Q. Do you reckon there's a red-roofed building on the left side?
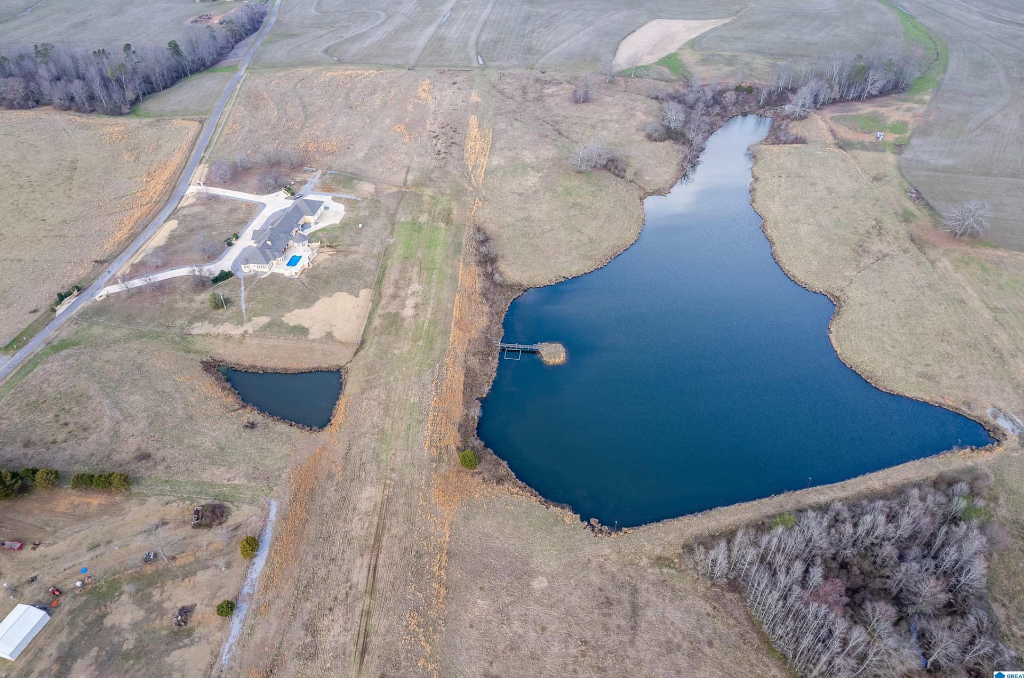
No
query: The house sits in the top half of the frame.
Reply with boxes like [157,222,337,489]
[240,196,326,273]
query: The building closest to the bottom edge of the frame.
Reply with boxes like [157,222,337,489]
[0,603,51,661]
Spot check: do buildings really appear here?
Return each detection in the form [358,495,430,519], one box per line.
[0,603,51,661]
[240,196,326,273]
